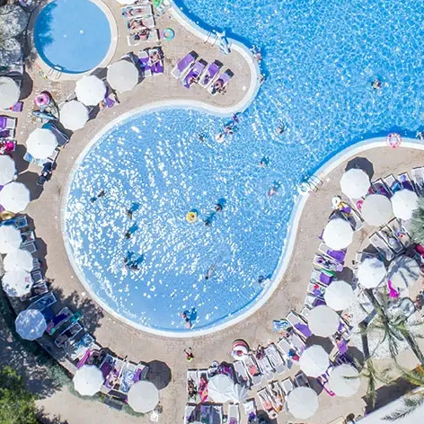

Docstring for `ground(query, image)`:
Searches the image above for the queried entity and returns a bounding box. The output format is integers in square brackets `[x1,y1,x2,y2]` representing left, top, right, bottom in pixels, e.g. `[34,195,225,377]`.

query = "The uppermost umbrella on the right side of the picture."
[338,166,370,197]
